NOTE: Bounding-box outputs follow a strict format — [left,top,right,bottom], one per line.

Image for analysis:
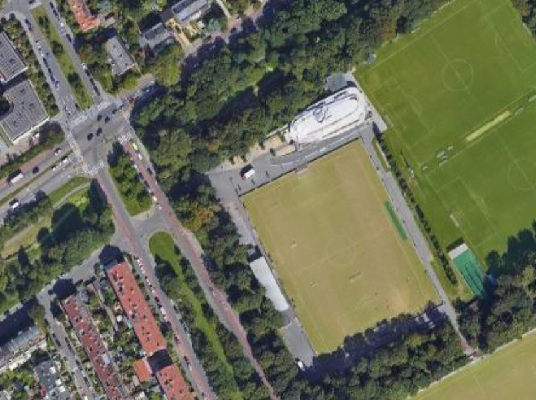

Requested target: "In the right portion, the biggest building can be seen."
[291,87,366,142]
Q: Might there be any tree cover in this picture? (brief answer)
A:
Yes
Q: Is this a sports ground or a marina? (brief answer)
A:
sports ground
